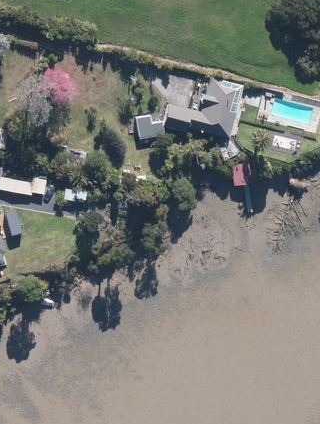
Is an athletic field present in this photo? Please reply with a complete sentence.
No, no athletic field is visible in the view.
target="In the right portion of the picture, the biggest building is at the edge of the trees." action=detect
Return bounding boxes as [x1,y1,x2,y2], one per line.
[164,78,244,138]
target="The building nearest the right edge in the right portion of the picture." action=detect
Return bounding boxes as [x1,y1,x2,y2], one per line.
[233,164,252,186]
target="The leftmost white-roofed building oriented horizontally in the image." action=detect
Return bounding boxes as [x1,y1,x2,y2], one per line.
[0,177,32,195]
